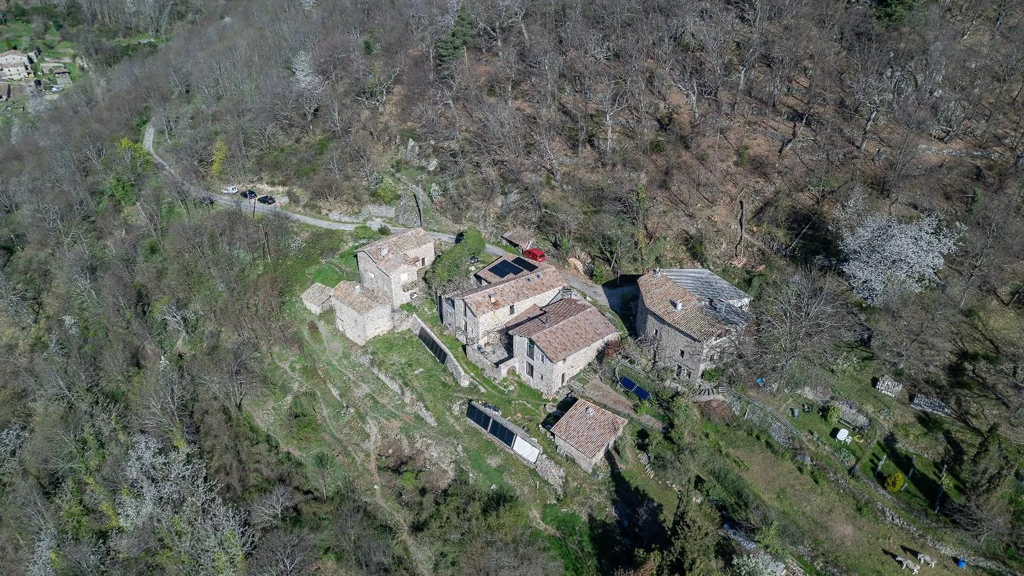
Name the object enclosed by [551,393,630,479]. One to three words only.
barn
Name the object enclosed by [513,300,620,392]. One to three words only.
house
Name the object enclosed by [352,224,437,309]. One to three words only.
house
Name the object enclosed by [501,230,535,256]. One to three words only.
shed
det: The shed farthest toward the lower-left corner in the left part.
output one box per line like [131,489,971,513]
[298,280,334,318]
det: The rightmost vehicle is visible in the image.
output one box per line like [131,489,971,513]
[523,247,548,261]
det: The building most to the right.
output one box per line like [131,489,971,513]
[634,261,757,380]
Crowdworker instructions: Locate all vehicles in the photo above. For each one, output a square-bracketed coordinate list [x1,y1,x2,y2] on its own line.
[257,195,277,204]
[523,247,548,261]
[197,196,216,206]
[238,190,258,199]
[219,183,239,194]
